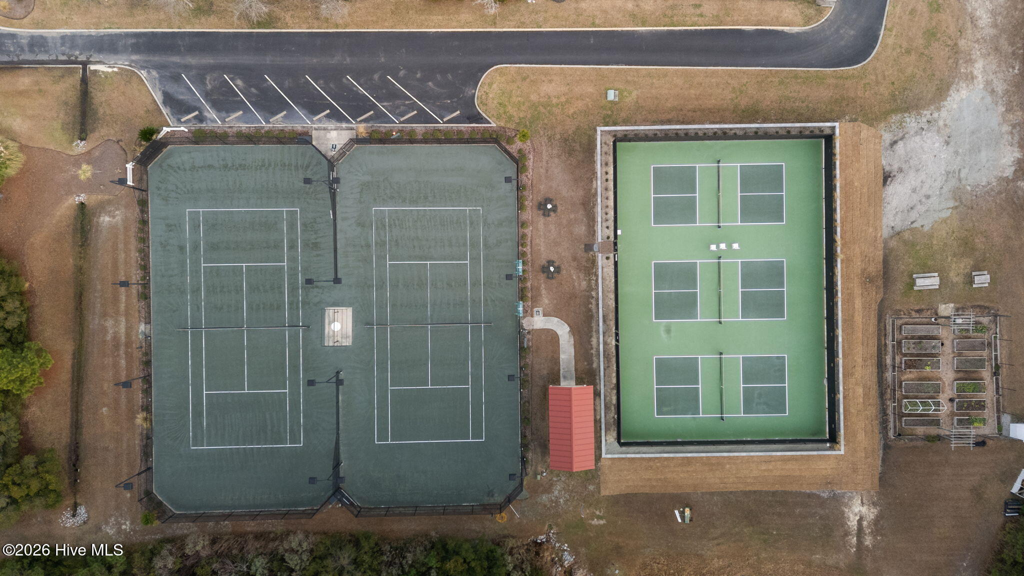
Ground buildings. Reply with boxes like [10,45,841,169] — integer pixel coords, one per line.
[548,382,594,472]
[1005,414,1024,437]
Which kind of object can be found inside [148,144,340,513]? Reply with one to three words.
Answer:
tennis court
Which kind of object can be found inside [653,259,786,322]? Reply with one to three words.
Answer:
sports court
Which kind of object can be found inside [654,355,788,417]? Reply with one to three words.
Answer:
sports court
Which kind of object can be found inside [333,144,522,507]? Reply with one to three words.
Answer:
tennis court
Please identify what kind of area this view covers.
sports ground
